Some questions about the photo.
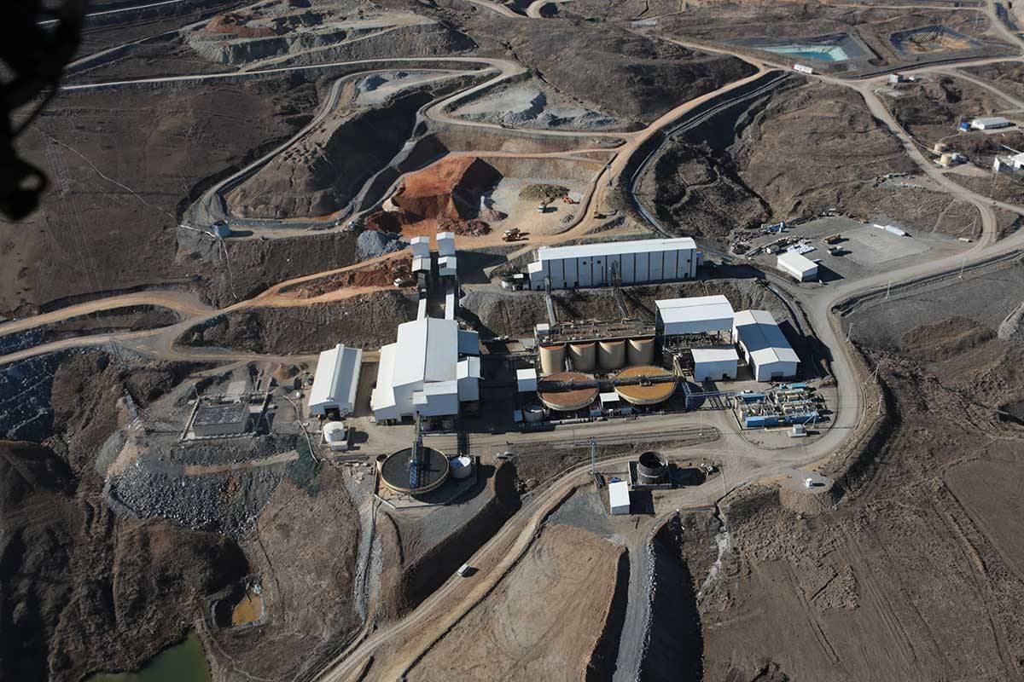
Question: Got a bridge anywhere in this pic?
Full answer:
Yes, I can see a bridge in this picture.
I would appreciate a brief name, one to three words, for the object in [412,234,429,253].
house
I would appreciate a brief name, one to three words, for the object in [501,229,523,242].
vehicle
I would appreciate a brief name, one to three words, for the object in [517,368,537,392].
building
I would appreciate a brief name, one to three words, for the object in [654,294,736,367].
shed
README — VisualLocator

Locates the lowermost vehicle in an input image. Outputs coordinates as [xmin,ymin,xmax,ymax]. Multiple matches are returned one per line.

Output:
[456,564,471,576]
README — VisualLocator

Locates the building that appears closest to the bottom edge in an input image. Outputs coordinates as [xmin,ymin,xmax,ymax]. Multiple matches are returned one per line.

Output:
[606,482,631,515]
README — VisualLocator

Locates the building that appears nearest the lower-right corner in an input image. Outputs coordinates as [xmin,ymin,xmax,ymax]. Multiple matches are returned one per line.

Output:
[785,419,809,437]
